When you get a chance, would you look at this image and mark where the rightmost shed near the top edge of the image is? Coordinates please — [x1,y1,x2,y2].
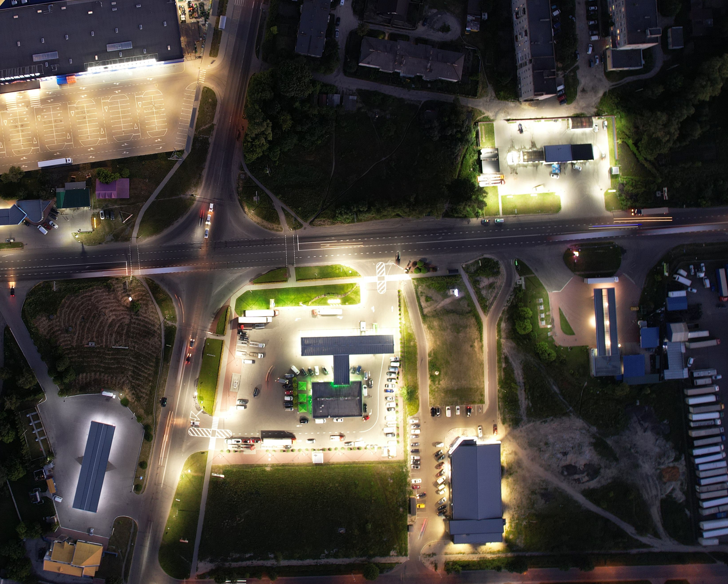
[667,26,684,49]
